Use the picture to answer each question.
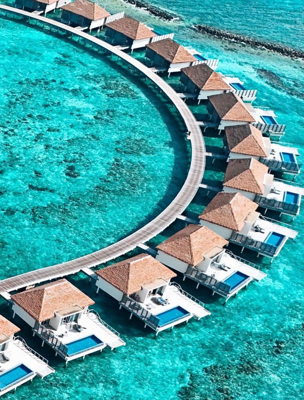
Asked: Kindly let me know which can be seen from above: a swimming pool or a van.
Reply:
swimming pool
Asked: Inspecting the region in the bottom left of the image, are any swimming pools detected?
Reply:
Yes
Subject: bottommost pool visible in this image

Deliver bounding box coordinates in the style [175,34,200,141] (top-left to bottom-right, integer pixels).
[0,364,34,395]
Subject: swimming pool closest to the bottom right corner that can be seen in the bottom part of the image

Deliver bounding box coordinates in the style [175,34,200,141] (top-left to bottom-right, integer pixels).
[214,269,250,299]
